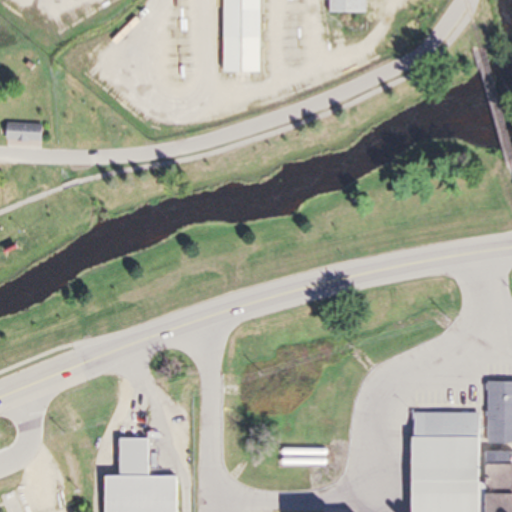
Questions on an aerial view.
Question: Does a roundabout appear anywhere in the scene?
No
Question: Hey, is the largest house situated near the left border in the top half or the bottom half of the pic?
top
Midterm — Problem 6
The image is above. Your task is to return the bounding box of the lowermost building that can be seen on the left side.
[103,474,178,512]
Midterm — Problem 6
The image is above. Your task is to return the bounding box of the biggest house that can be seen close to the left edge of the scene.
[6,122,41,141]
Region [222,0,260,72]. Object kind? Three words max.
building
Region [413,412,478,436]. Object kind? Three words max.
building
